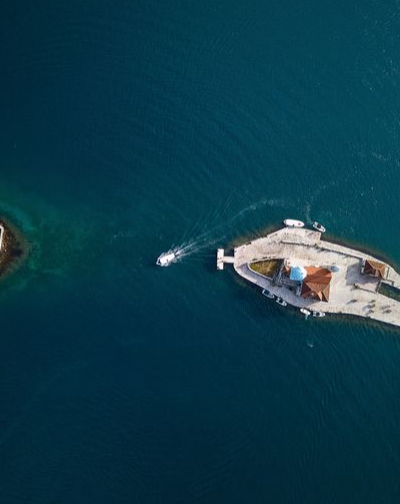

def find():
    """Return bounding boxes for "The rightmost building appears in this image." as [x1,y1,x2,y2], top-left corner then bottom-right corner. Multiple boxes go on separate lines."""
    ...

[361,260,385,279]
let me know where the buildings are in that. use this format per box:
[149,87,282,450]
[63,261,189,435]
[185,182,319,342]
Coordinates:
[361,260,385,279]
[283,266,331,302]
